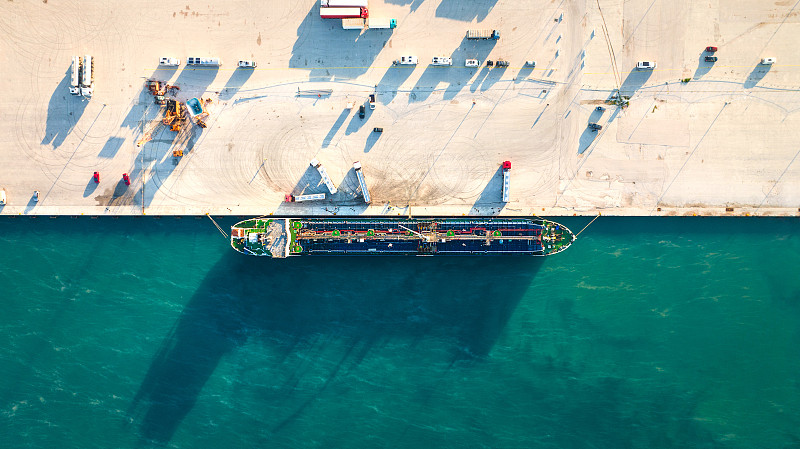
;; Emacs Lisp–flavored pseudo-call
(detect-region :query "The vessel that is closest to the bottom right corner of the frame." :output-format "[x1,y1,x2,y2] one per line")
[229,218,577,257]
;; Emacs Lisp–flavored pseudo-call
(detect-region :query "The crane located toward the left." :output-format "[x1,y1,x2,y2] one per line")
[135,98,190,147]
